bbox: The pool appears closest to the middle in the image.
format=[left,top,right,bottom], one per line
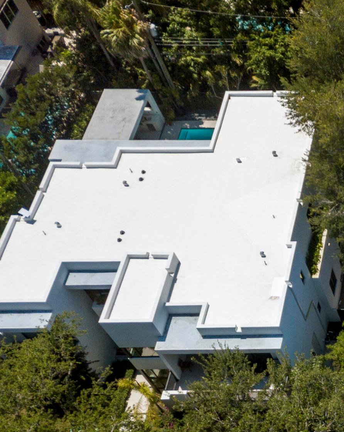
[174,126,217,141]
